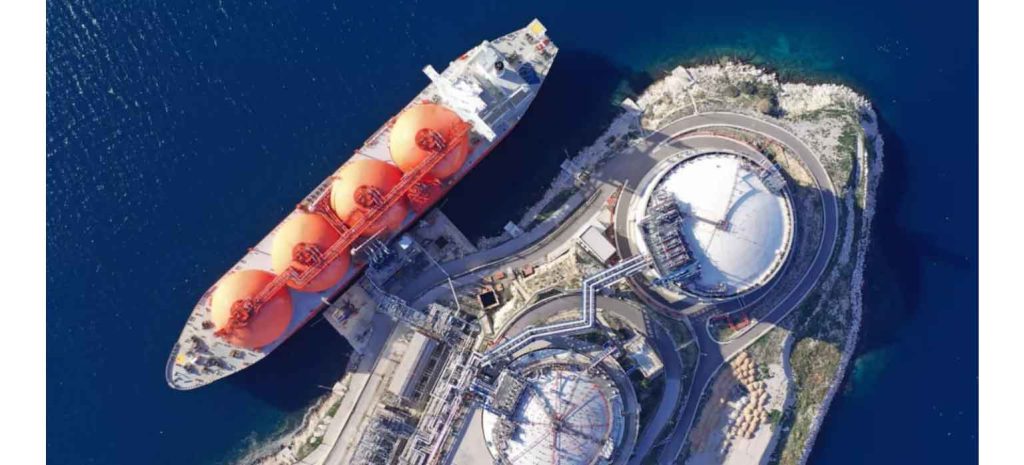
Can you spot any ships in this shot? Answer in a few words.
Yes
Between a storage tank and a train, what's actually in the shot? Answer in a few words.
storage tank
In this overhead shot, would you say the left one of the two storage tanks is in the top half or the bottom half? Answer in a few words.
bottom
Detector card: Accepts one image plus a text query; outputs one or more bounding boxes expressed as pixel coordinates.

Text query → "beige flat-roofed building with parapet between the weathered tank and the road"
[622,334,663,379]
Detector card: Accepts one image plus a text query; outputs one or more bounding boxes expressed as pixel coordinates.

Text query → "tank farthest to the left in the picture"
[466,343,626,465]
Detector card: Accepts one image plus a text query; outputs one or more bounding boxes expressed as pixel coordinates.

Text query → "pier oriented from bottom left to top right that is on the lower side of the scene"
[322,207,478,362]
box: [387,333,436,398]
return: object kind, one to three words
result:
shed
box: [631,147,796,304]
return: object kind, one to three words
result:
storage tank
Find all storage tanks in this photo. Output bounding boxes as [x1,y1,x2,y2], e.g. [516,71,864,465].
[631,147,796,304]
[466,343,626,465]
